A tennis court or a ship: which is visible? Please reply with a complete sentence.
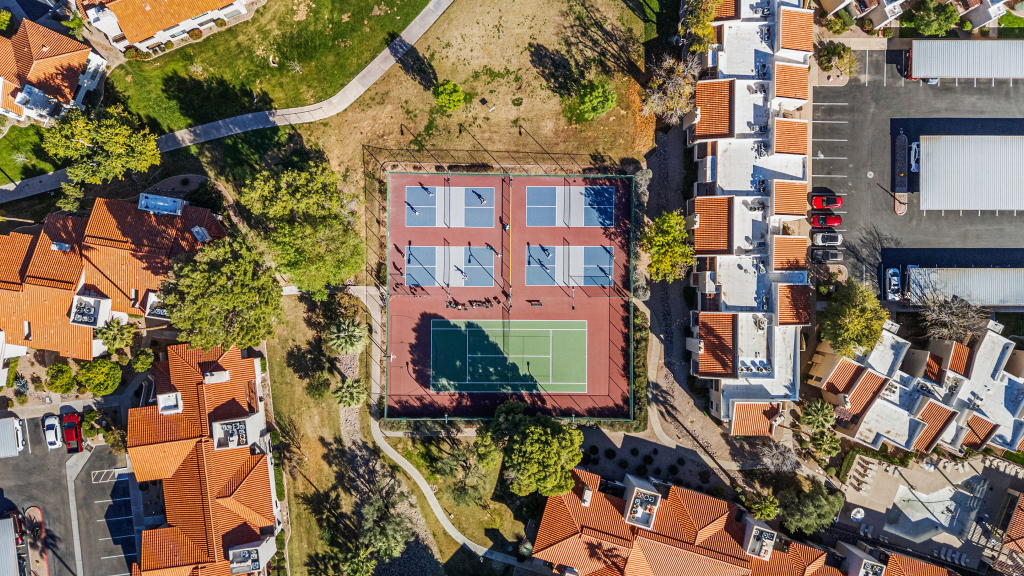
The image shows a tennis court.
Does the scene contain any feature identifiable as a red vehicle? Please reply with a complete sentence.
Yes, you can see a red vehicle in this photo.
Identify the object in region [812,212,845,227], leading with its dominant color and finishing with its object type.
red car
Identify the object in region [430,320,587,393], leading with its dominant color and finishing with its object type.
green tennis court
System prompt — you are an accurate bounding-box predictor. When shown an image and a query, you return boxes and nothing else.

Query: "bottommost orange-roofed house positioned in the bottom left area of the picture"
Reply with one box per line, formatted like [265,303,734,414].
[127,342,288,576]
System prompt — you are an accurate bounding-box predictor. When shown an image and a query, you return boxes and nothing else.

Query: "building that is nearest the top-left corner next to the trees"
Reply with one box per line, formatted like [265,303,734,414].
[0,18,113,126]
